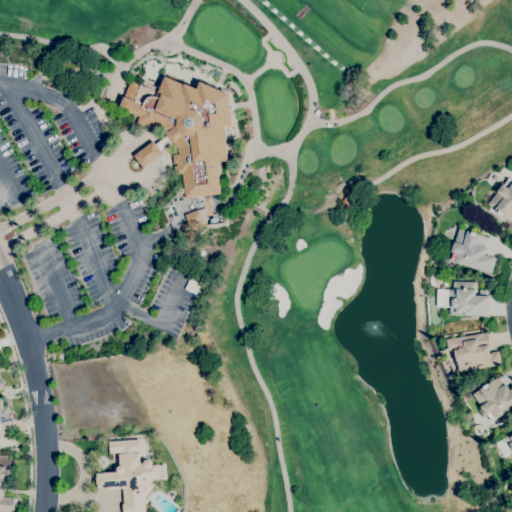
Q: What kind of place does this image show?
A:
golf course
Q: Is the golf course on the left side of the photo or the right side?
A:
right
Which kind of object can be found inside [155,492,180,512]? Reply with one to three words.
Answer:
swimming pool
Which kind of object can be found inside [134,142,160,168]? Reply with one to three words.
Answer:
building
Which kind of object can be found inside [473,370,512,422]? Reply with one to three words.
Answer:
house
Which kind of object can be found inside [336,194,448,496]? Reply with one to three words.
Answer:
pond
